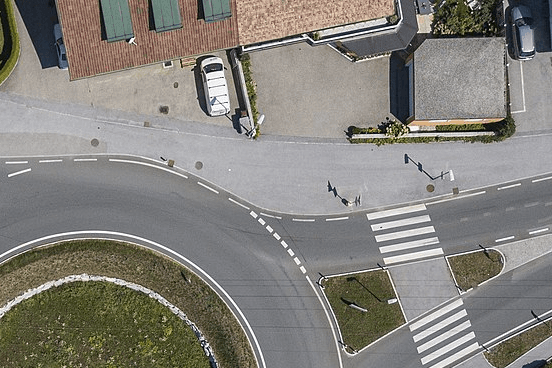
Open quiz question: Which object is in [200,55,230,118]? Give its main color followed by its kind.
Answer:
white van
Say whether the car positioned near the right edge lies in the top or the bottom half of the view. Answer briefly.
top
